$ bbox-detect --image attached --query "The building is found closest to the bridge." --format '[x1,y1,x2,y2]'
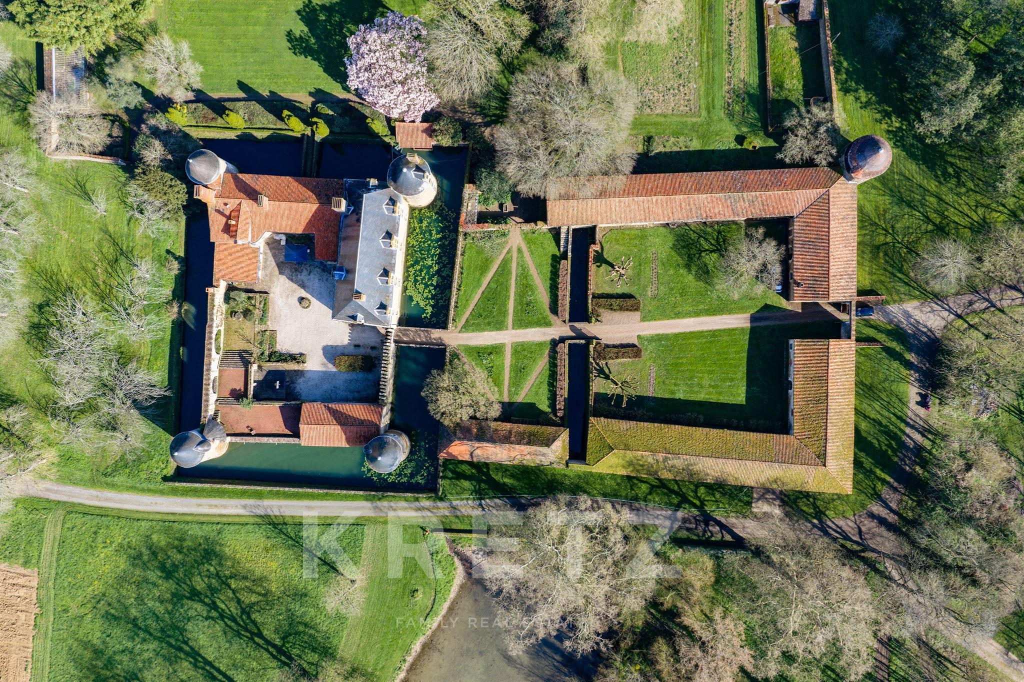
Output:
[330,178,410,328]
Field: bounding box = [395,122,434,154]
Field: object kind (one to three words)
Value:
building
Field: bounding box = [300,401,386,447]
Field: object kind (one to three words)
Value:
barn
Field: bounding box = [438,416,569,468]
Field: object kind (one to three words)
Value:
shed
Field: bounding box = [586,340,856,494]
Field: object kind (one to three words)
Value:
shed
